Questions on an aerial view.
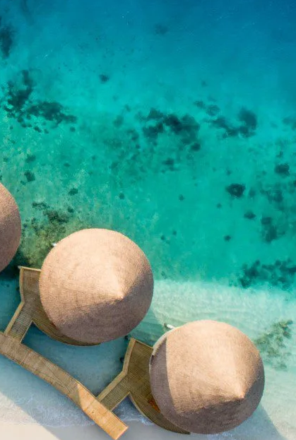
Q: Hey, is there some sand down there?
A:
Yes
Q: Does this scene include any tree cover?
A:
No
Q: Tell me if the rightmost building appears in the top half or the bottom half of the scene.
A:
bottom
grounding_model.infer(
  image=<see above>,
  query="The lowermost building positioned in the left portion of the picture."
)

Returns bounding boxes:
[4,228,153,347]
